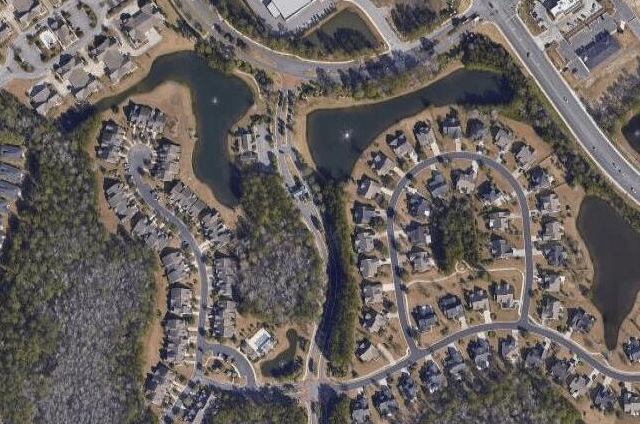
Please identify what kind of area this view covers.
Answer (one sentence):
The picture captures a residential area.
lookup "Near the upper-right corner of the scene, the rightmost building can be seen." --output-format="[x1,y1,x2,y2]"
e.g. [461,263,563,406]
[577,32,619,69]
